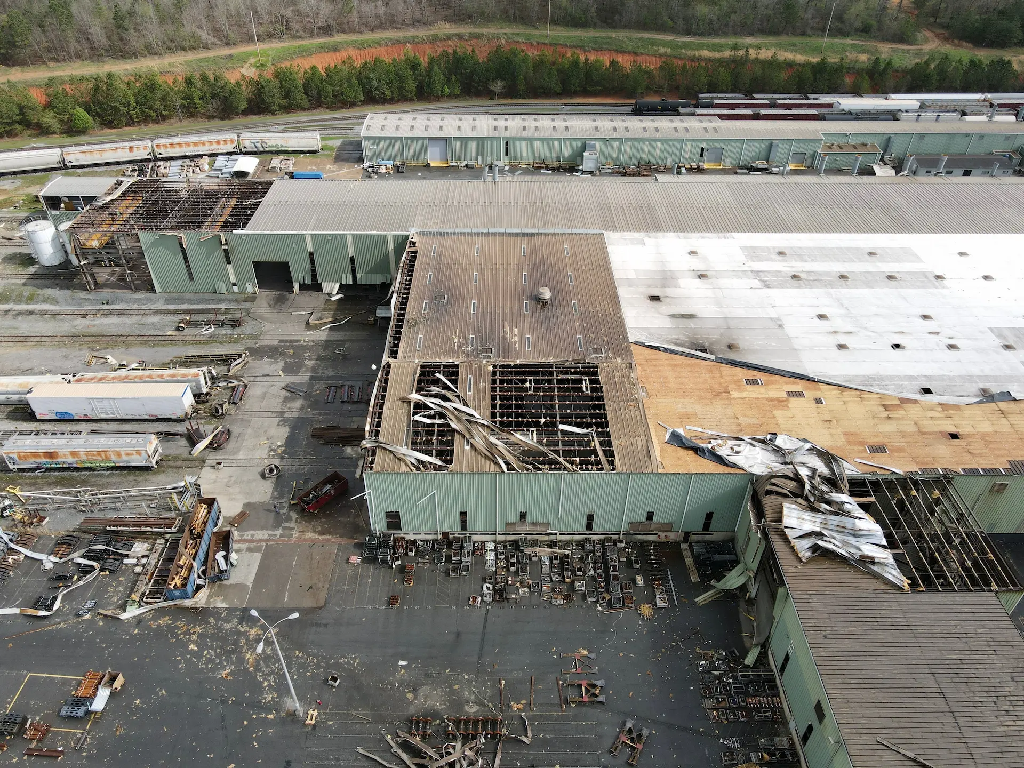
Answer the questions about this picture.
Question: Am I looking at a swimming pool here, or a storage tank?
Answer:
storage tank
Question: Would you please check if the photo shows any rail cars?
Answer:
Yes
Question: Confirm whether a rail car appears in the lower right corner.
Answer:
No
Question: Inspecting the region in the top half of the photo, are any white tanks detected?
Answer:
Yes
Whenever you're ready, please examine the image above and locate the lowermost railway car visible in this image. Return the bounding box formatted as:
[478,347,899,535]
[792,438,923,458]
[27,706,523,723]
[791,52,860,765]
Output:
[6,431,166,466]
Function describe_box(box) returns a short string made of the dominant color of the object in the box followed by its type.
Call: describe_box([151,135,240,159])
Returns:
white rail car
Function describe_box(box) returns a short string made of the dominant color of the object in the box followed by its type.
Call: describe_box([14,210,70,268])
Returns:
white storage tank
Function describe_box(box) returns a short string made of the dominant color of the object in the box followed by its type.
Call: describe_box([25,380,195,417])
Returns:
white rail car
